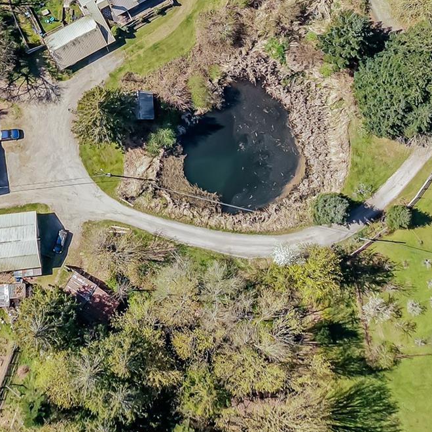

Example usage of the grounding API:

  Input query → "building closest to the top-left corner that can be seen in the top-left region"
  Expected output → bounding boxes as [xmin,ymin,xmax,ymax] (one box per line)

[44,15,105,70]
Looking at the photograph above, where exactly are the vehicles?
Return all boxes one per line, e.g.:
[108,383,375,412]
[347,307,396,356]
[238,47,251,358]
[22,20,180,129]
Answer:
[0,129,24,142]
[52,227,68,256]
